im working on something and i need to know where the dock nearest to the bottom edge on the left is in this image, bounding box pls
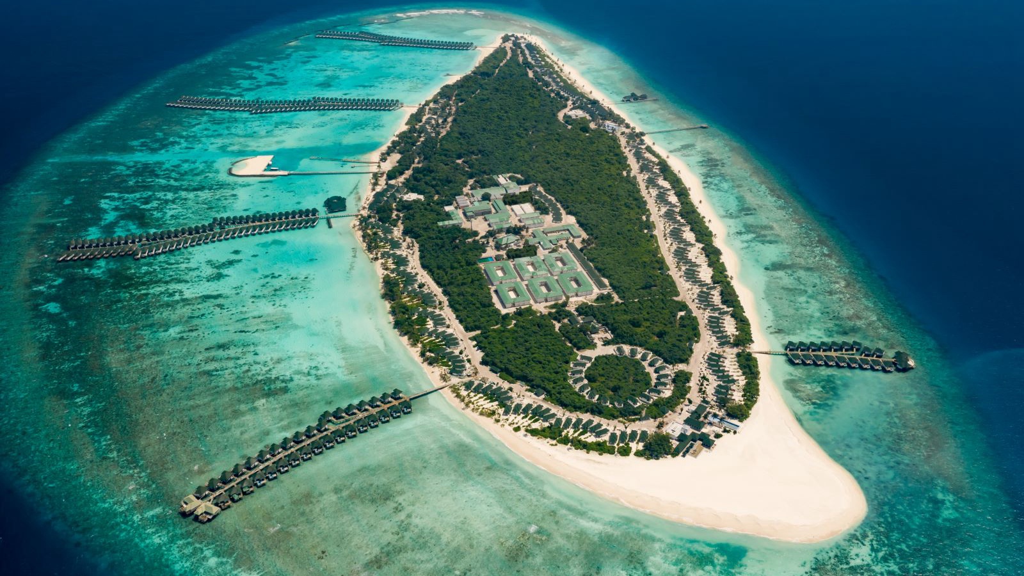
[203,381,450,501]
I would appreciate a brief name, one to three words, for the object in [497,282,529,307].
building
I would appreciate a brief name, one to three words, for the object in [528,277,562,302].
building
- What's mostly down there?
water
